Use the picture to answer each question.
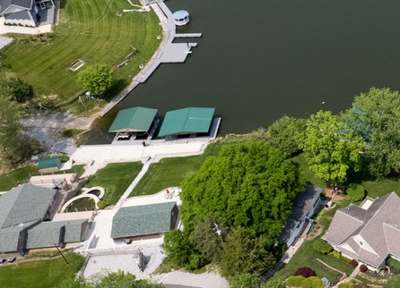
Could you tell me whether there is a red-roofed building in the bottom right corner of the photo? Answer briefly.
No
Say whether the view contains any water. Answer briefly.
Yes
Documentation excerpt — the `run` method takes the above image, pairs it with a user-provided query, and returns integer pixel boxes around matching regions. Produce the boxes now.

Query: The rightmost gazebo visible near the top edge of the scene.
[169,4,189,24]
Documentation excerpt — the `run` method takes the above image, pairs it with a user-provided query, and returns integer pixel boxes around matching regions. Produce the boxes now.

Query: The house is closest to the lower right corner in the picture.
[319,189,400,288]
